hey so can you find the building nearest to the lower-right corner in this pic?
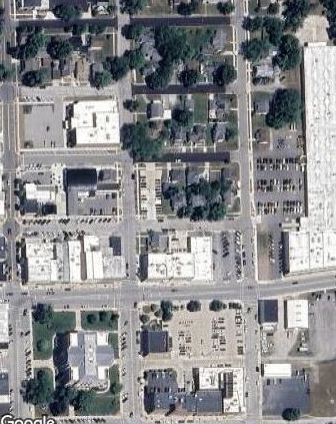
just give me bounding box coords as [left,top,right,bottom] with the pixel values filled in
[264,363,291,377]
